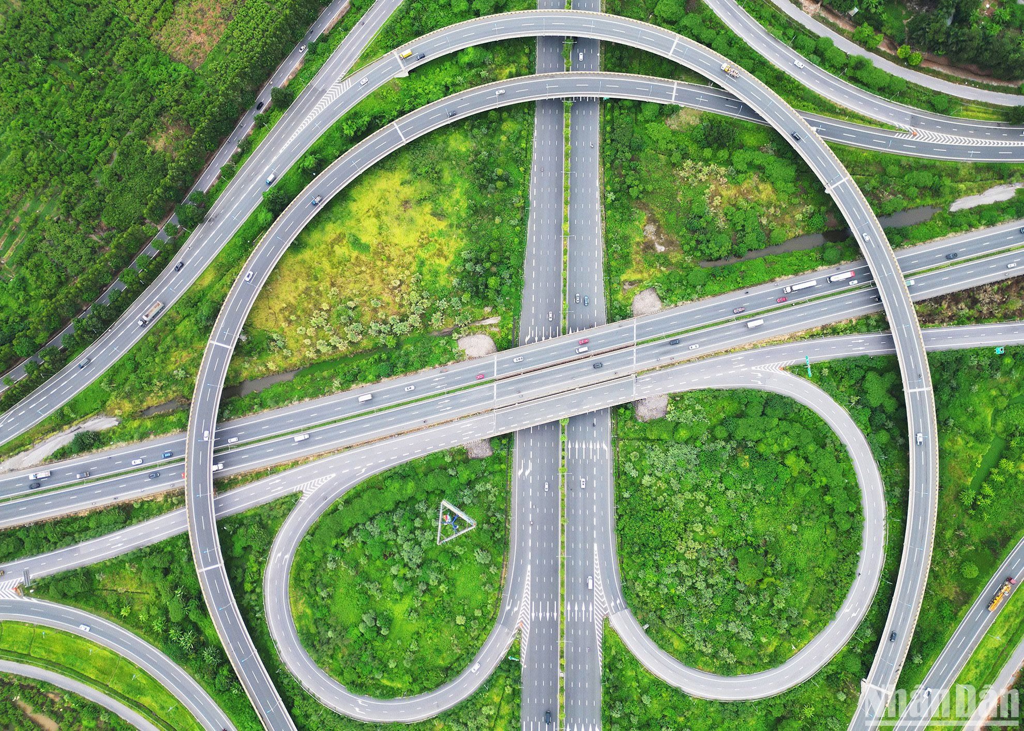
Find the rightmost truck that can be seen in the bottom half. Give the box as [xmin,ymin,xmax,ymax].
[990,581,1015,610]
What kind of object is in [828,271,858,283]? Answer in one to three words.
vehicle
